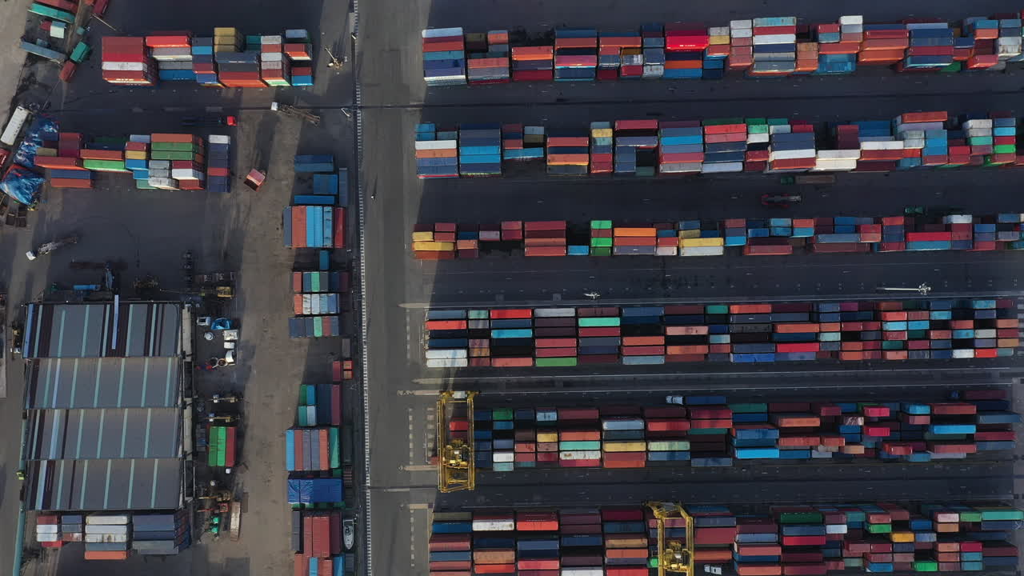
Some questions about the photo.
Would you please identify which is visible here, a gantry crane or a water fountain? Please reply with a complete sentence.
This aerial view contains a gantry crane.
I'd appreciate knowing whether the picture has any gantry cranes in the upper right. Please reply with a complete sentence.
No, there's no gantry crane to be seen in the upper right.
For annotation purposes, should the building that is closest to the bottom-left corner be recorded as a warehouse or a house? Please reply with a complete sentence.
The building that is closest to the bottom-left corner appears to be a warehouse.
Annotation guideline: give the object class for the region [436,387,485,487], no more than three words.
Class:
container crane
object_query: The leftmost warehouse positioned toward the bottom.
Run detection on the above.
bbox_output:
[22,297,197,511]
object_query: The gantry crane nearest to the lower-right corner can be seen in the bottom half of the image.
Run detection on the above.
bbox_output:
[641,495,695,576]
